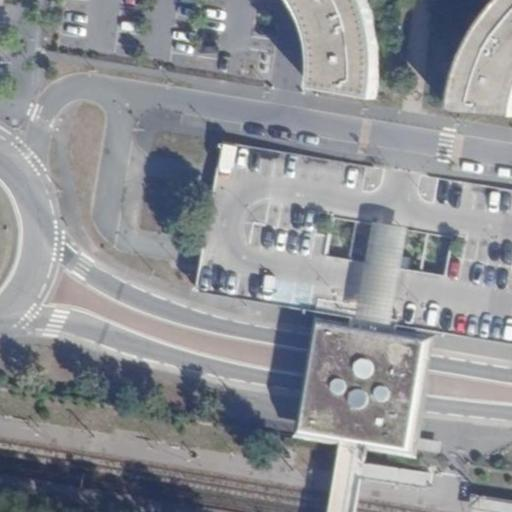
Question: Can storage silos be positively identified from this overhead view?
No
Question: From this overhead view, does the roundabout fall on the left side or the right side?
left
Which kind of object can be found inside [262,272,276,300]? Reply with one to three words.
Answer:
vehicle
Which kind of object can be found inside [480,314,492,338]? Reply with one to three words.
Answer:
vehicle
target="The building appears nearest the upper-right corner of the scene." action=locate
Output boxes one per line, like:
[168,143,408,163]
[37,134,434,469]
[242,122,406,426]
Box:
[444,0,512,123]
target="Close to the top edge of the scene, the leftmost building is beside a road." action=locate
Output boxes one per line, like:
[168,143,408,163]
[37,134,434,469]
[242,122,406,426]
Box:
[282,0,379,105]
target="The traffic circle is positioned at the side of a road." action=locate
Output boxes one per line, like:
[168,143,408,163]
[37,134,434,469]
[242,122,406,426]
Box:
[0,132,64,339]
